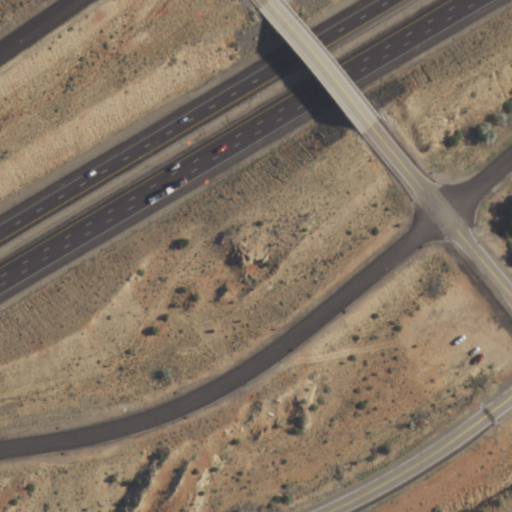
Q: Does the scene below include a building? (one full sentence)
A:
No, there isn't any building down there.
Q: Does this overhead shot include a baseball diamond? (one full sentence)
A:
No, the photo shows no baseball diamond.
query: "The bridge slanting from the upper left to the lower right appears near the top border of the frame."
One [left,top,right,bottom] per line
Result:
[254,0,383,134]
